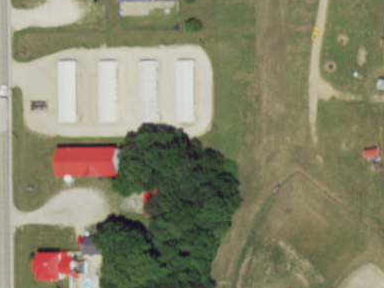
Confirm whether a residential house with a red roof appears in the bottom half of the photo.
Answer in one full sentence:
Yes, in the bottom half of the photo there is a residential house with a red roof.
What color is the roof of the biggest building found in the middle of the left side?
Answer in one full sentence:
From above, the roof of the biggest building found in the middle of the left side looks red.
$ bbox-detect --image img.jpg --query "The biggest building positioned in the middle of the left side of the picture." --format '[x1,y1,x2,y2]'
[53,147,118,176]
